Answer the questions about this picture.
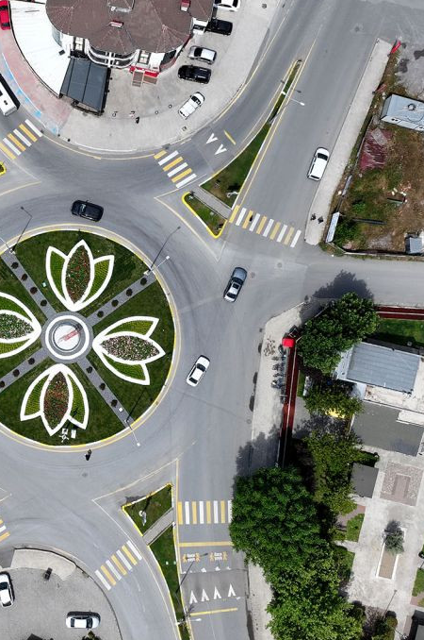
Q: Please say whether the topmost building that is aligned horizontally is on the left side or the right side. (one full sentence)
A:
The topmost building that is aligned horizontally is on the left side of the image.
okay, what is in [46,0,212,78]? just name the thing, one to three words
building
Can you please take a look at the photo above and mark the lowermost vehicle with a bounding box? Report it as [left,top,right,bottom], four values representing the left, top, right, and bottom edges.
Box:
[65,611,99,629]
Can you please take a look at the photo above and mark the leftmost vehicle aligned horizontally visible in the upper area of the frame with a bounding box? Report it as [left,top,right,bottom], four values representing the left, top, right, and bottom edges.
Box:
[71,202,104,220]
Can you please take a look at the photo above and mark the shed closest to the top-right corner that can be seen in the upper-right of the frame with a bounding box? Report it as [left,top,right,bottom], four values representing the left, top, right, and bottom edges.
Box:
[379,95,424,132]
